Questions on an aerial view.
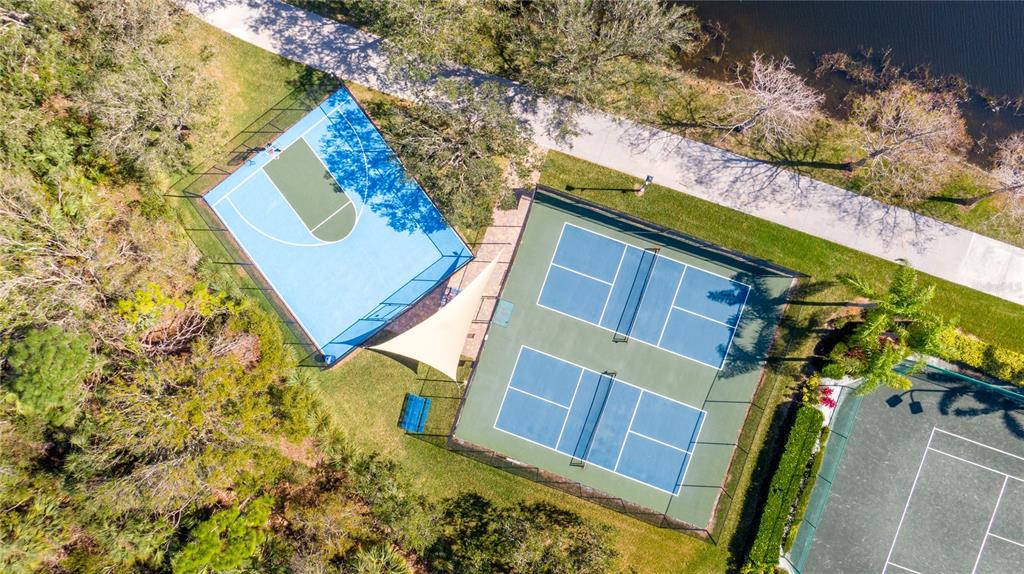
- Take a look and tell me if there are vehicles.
No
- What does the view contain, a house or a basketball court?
basketball court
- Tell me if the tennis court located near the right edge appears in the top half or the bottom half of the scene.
bottom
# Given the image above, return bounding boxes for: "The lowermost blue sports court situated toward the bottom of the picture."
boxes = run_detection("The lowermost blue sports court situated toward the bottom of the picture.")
[495,346,706,495]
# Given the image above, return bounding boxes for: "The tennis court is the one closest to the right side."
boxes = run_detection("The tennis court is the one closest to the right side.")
[803,361,1024,574]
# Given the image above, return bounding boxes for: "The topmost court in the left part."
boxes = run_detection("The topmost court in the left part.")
[202,86,473,363]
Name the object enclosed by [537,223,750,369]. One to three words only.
sports court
